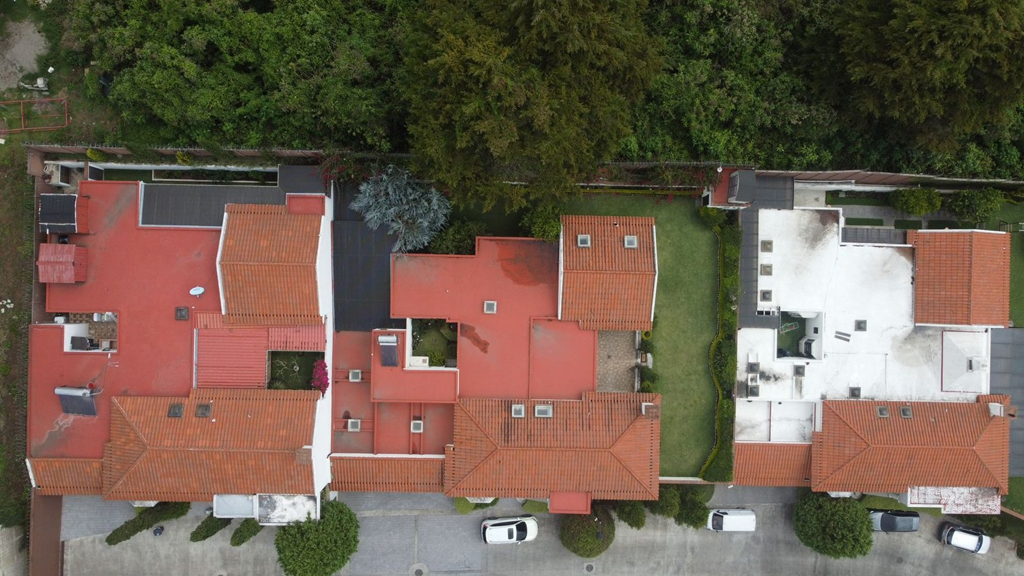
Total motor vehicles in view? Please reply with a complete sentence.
Altogether the scene contains 4 motor vehicles.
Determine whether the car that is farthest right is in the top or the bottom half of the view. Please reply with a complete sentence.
Seen from above, the car that is farthest right lies in the bottom half of the view.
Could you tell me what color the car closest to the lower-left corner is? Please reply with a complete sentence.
The car closest to the lower-left corner is white.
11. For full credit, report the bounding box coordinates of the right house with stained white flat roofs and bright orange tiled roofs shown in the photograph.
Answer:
[697,169,1024,515]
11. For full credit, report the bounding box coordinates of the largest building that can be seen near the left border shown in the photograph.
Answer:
[24,165,336,524]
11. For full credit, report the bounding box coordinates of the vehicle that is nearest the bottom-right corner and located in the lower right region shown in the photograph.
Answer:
[937,518,995,556]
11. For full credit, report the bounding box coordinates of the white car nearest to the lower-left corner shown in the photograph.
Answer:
[480,513,539,544]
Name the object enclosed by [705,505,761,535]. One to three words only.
van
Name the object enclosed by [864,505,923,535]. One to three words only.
car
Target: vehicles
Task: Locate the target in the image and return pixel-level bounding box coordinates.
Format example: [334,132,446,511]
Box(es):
[480,513,539,544]
[864,505,923,535]
[705,505,761,535]
[937,518,995,556]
